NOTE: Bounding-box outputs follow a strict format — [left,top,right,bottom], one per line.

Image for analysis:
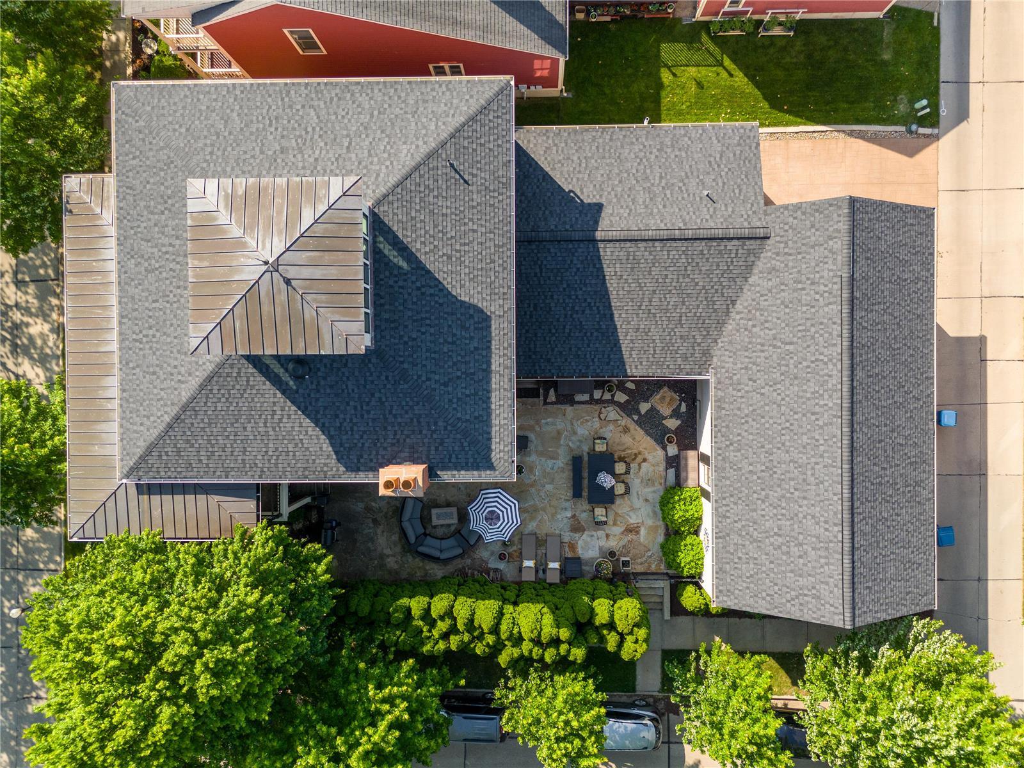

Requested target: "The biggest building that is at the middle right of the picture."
[698,195,939,629]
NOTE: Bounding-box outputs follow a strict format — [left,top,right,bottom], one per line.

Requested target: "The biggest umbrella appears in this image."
[463,486,522,543]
